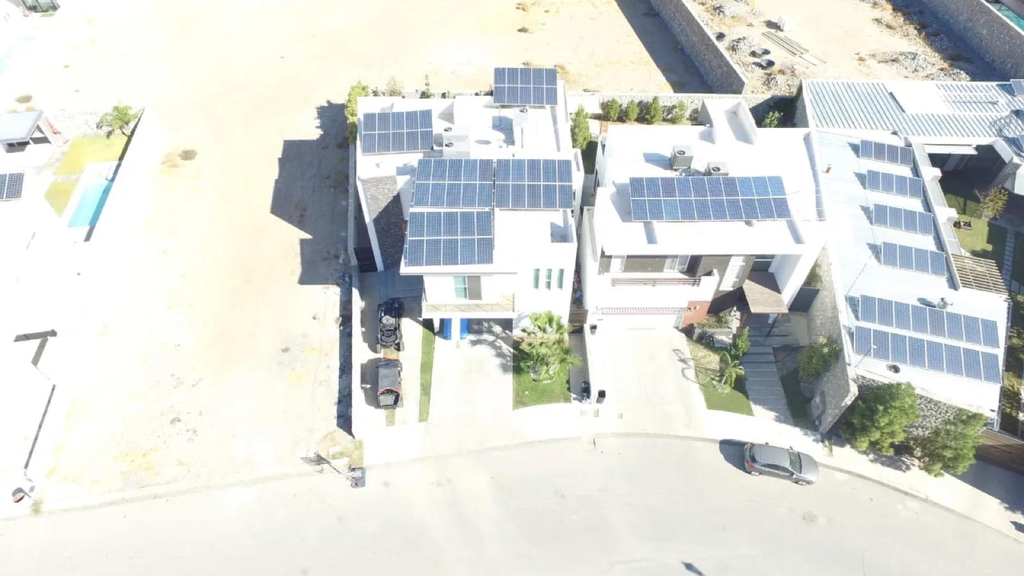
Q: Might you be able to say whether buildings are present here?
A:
Yes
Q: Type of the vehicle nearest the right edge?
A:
automobile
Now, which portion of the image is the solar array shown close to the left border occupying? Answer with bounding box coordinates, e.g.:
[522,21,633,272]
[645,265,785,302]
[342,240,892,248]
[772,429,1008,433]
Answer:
[0,173,27,200]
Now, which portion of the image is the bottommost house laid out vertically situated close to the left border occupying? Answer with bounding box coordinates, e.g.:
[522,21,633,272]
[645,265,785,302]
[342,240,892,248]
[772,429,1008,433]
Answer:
[0,165,77,346]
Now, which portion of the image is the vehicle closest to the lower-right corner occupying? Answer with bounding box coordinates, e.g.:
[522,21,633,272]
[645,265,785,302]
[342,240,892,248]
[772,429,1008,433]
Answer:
[743,442,820,490]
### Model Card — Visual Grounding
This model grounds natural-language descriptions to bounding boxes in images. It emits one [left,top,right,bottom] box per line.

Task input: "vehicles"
[371,300,405,351]
[371,358,406,413]
[743,442,820,490]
